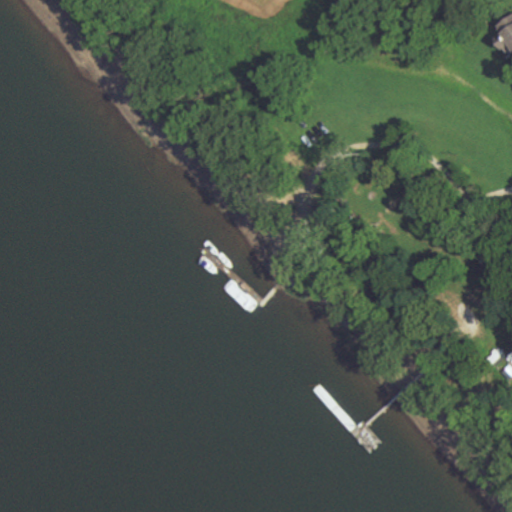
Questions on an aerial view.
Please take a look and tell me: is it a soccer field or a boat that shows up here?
boat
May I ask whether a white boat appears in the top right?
No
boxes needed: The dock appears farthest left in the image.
[201,248,262,306]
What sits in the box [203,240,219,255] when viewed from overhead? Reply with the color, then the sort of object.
white boat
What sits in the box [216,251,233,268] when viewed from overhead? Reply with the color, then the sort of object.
white boat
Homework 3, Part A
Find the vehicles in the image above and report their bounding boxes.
[316,121,329,134]
[301,136,312,147]
[306,131,317,142]
[465,310,474,323]
[312,126,322,137]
